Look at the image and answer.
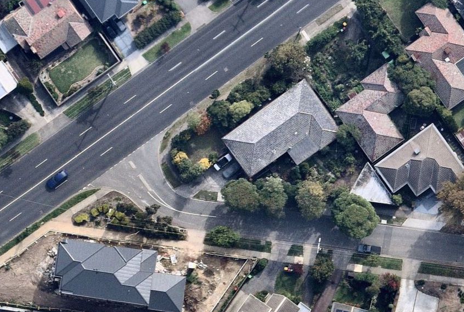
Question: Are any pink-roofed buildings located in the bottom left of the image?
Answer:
No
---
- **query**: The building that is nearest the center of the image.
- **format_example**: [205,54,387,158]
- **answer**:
[222,76,339,177]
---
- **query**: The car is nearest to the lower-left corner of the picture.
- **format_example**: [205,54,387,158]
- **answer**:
[47,170,68,189]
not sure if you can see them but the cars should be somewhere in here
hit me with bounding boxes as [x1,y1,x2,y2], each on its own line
[103,21,119,38]
[47,170,68,189]
[358,245,382,254]
[213,152,235,171]
[221,160,242,179]
[113,14,130,36]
